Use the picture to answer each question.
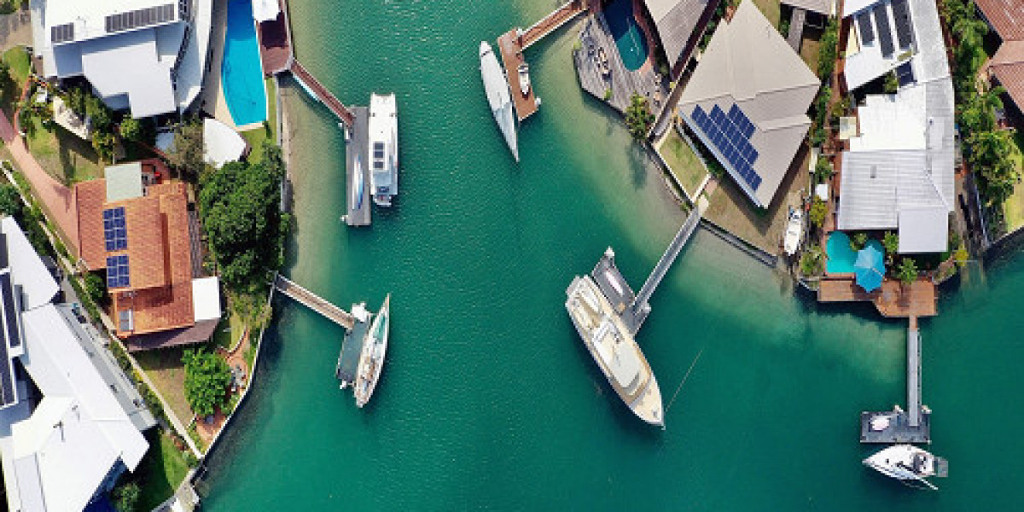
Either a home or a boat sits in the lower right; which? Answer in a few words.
boat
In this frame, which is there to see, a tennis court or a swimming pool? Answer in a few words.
swimming pool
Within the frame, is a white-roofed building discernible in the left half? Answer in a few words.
Yes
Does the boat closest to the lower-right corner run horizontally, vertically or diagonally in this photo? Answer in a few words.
horizontally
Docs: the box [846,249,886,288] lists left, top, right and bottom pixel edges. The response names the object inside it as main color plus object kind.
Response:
blue umbrella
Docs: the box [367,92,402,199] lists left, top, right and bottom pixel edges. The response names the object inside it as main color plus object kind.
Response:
white boat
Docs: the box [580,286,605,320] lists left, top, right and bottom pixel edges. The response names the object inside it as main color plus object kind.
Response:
white boat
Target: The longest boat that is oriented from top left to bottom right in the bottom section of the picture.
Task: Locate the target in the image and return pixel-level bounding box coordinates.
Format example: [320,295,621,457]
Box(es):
[563,276,668,433]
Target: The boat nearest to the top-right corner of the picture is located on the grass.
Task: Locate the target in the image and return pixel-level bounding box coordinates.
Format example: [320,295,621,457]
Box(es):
[784,206,802,254]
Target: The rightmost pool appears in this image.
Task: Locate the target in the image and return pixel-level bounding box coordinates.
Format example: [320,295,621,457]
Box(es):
[823,229,888,276]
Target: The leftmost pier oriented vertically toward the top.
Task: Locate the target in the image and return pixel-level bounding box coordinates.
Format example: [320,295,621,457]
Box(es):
[341,105,371,226]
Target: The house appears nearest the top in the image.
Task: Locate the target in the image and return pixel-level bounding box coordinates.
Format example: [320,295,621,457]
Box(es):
[777,0,825,37]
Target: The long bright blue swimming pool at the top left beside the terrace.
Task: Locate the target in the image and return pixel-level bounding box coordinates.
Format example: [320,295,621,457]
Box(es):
[219,0,270,130]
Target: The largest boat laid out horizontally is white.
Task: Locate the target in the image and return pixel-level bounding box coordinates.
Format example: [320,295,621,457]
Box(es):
[863,446,946,488]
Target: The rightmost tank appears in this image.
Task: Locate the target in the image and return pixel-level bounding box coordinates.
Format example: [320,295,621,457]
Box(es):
[834,117,855,141]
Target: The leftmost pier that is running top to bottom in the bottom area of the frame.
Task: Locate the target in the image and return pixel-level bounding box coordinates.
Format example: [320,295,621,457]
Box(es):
[335,304,373,387]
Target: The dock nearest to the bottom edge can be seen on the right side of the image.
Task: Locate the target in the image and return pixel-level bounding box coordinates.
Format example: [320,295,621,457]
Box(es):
[859,405,933,443]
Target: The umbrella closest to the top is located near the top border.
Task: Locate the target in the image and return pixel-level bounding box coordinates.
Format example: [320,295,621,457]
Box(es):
[251,0,284,21]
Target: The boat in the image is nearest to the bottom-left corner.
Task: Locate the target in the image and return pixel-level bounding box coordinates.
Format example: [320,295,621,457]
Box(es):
[354,295,391,408]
